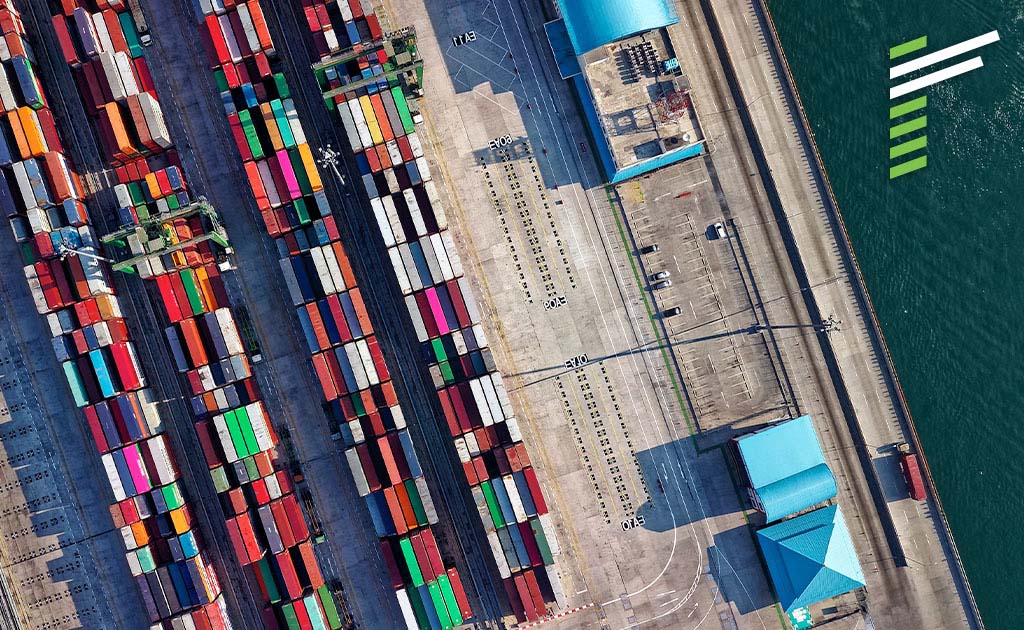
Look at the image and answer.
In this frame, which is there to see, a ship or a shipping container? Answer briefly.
shipping container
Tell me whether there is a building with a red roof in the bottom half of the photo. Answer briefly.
No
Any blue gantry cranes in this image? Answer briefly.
No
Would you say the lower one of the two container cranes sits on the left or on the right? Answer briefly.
left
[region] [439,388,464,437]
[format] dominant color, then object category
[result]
red shipping container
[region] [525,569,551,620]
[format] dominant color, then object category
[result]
red shipping container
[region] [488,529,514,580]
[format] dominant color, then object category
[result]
white shipping container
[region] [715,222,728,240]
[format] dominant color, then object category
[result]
white vehicle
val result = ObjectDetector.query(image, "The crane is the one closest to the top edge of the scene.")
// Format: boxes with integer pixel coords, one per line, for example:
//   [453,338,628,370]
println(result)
[311,27,432,132]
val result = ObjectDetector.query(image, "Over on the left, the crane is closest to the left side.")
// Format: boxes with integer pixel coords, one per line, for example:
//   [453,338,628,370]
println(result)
[98,199,241,283]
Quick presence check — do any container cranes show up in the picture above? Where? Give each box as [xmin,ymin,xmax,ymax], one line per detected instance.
[311,27,432,132]
[98,199,241,283]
